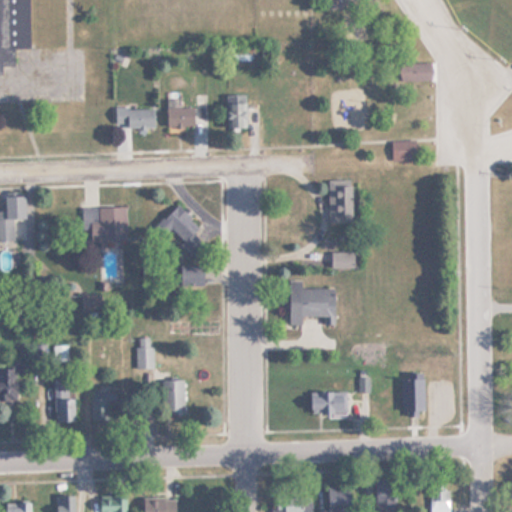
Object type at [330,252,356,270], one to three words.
building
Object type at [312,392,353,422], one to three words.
house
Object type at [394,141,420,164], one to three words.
building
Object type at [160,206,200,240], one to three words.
house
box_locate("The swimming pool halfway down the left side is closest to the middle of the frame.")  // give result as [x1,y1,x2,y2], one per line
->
[100,251,118,280]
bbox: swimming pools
[100,251,118,280]
[0,248,14,272]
